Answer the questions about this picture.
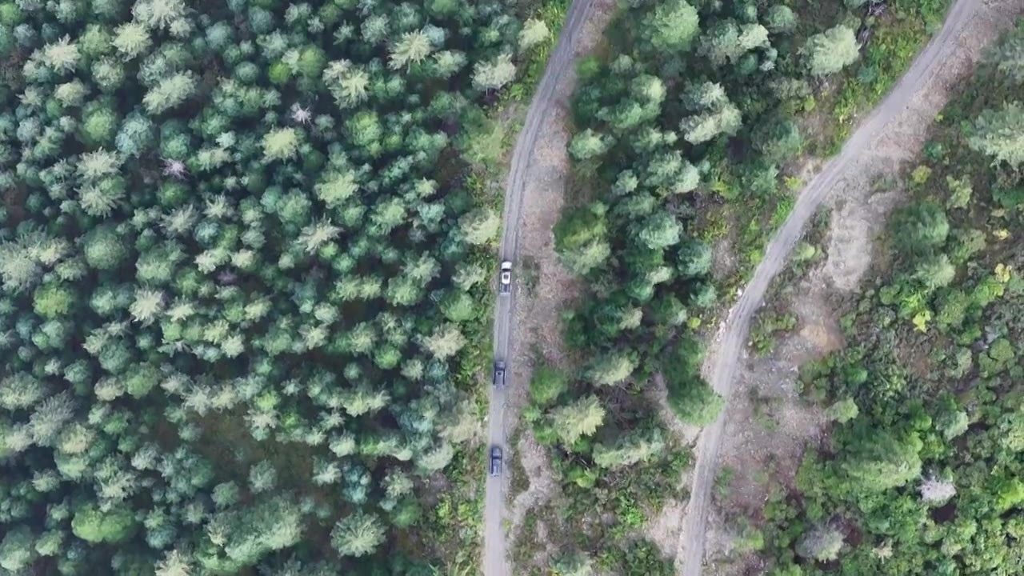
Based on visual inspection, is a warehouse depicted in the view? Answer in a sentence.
No, the picture doesn't show any warehouse.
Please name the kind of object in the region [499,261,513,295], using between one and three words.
vehicle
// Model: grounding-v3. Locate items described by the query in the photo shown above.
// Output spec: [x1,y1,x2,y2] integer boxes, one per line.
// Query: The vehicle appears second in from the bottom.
[493,360,506,390]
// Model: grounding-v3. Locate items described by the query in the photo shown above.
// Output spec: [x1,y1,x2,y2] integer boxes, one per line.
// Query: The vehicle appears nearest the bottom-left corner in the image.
[490,446,503,477]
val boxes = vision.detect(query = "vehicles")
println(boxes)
[490,446,503,477]
[493,360,506,390]
[499,261,513,295]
